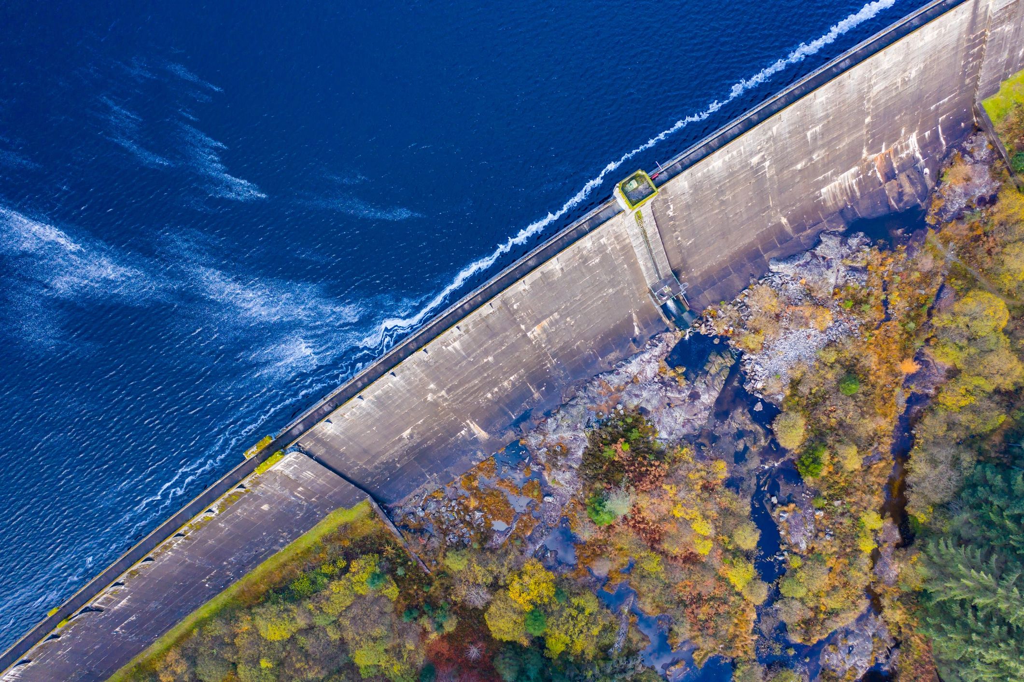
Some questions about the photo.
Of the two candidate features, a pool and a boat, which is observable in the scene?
pool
